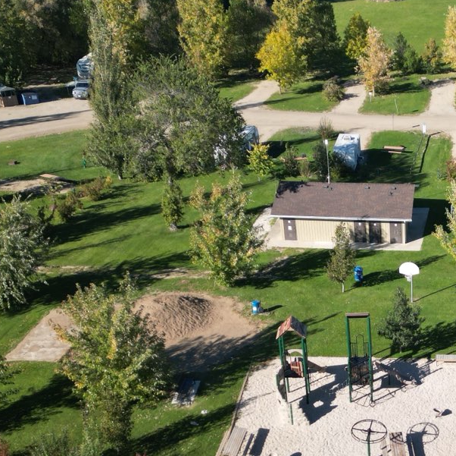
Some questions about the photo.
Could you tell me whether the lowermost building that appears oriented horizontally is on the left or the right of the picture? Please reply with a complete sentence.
The lowermost building that appears oriented horizontally appears in the right half of the scene.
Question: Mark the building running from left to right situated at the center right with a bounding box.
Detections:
[270,179,422,243]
